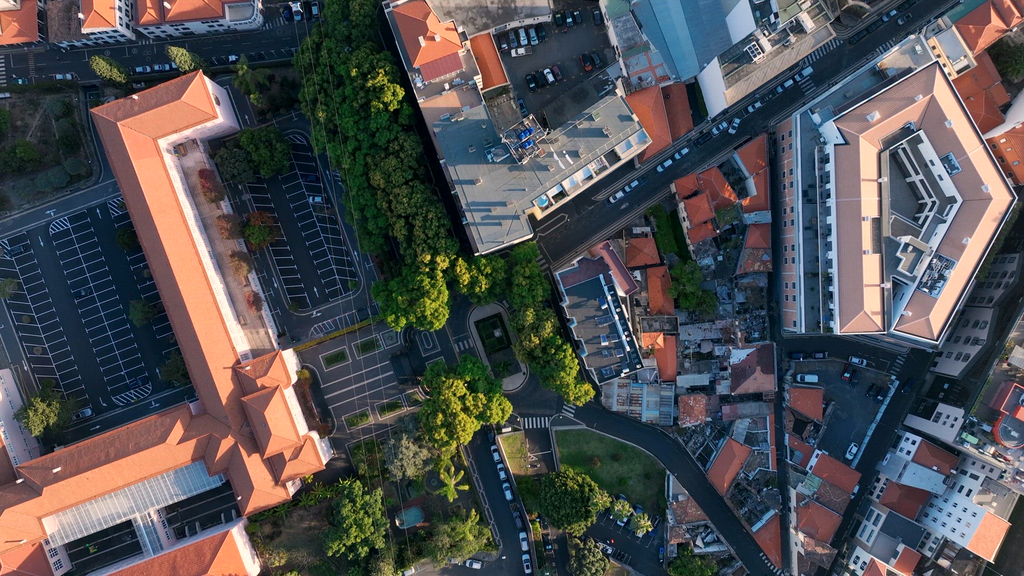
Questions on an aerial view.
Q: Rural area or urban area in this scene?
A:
urban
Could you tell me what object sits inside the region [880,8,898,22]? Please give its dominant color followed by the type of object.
blue car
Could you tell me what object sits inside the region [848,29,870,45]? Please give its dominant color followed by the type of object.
black vehicle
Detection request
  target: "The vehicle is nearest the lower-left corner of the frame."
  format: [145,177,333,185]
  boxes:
[78,407,95,420]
